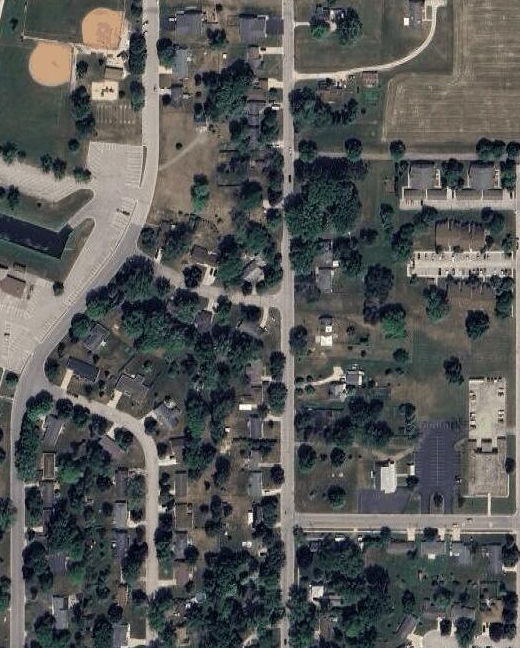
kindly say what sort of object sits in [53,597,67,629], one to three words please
house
